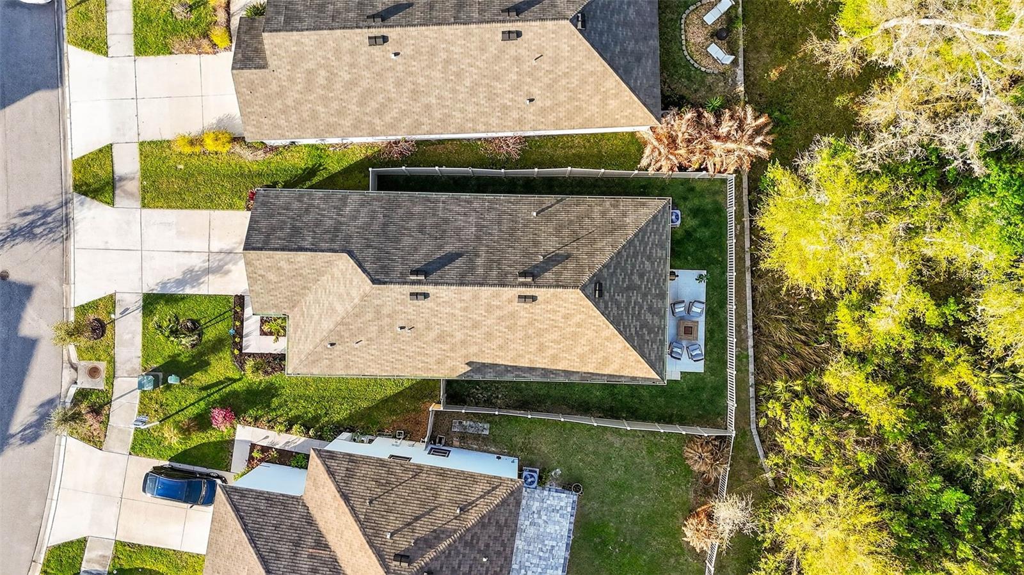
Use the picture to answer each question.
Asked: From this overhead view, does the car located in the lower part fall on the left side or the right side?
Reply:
left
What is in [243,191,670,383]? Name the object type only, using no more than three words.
house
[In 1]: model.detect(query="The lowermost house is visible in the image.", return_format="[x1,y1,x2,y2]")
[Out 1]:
[206,421,525,575]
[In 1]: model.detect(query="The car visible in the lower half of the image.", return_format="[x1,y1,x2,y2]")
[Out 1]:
[141,463,227,510]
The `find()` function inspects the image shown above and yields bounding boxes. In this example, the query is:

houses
[243,191,670,383]
[206,421,525,575]
[232,0,661,144]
